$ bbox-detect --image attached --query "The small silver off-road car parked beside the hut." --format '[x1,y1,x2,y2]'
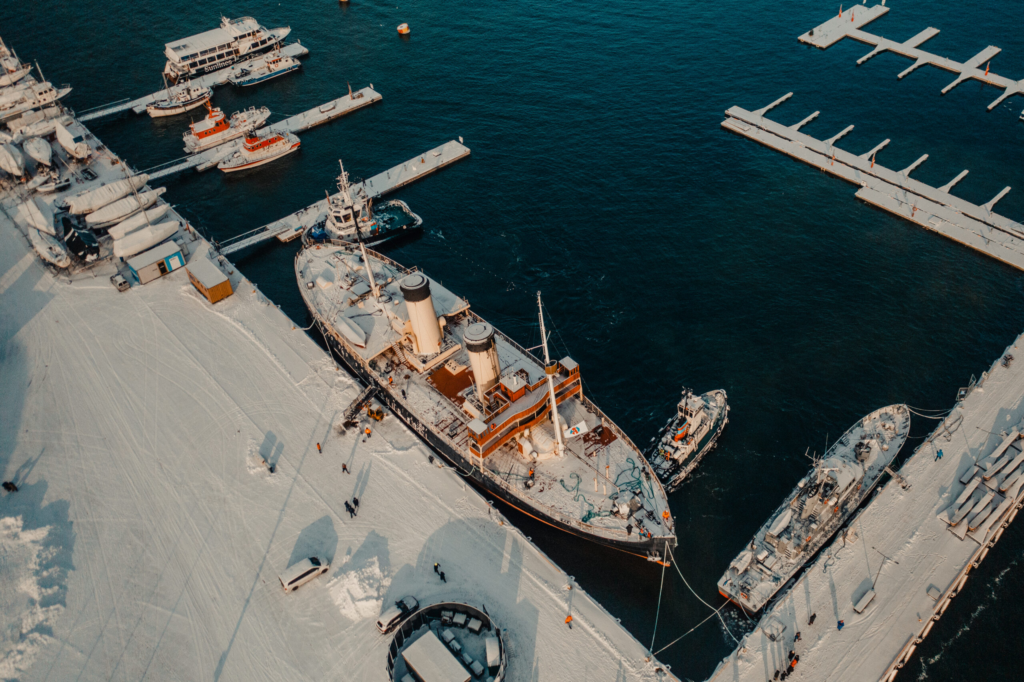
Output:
[109,273,128,290]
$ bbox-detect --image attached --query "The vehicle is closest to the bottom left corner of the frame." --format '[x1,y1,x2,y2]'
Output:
[279,554,331,592]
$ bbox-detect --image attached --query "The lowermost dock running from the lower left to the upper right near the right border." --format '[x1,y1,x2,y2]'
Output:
[702,329,1024,682]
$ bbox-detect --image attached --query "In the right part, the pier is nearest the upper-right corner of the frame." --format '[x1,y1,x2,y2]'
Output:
[963,46,1001,69]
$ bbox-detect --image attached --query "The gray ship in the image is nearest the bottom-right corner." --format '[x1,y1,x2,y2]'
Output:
[713,402,914,624]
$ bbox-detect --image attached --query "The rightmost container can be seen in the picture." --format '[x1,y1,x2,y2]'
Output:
[185,258,233,304]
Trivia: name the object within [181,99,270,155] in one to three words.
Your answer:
boat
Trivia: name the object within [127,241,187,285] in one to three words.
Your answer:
shed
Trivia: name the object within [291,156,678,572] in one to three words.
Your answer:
ship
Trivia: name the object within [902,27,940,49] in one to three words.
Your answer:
pier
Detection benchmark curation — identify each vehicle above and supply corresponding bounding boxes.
[279,554,331,592]
[109,273,128,290]
[371,595,418,638]
[365,396,394,420]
